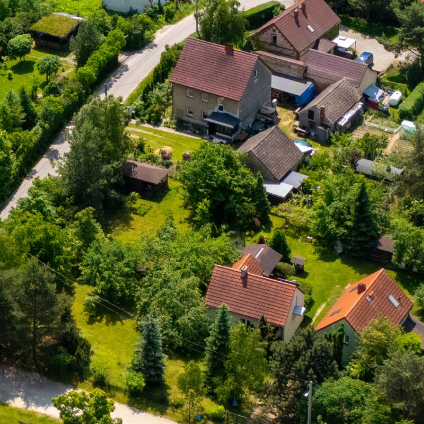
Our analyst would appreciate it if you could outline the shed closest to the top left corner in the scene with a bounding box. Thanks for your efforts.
[31,11,79,55]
